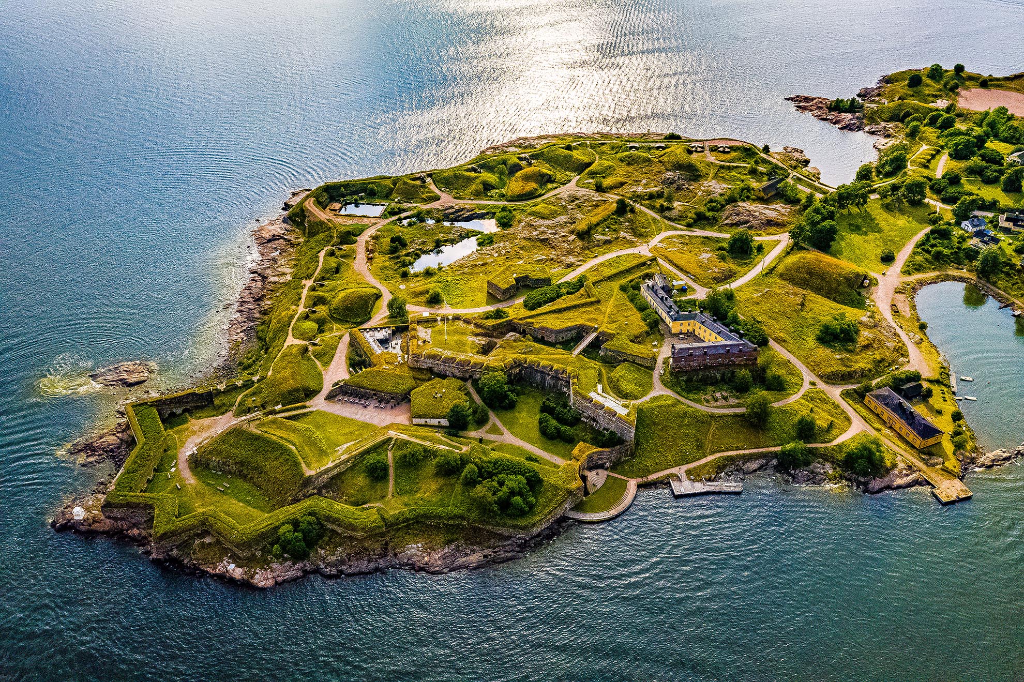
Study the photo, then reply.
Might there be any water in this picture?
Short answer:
Yes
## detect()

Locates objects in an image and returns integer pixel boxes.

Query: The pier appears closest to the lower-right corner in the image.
[922,473,972,506]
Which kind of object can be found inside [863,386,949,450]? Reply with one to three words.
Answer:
house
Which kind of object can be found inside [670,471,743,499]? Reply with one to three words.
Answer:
pier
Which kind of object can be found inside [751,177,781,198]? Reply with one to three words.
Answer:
house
